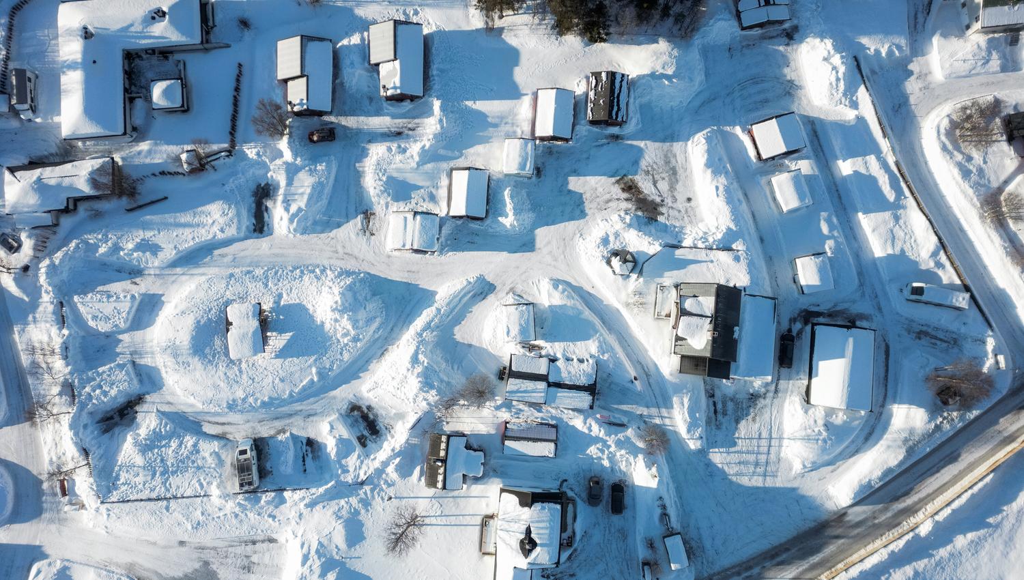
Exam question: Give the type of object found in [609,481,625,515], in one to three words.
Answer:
car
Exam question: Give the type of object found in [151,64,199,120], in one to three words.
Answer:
shed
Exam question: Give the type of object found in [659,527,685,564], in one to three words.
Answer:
trailer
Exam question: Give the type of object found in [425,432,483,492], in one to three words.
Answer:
house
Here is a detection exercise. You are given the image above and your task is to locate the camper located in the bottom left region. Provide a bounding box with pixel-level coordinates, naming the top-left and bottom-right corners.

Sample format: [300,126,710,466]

[233,432,258,486]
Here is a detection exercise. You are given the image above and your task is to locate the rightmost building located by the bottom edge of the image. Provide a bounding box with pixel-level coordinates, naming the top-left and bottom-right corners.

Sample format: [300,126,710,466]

[481,479,576,580]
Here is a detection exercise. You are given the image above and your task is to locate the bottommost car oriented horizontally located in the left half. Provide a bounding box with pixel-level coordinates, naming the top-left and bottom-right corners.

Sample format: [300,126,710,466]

[307,128,337,143]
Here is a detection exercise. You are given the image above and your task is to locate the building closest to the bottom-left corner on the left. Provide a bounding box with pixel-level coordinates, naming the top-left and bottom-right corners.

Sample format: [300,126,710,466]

[226,302,270,359]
